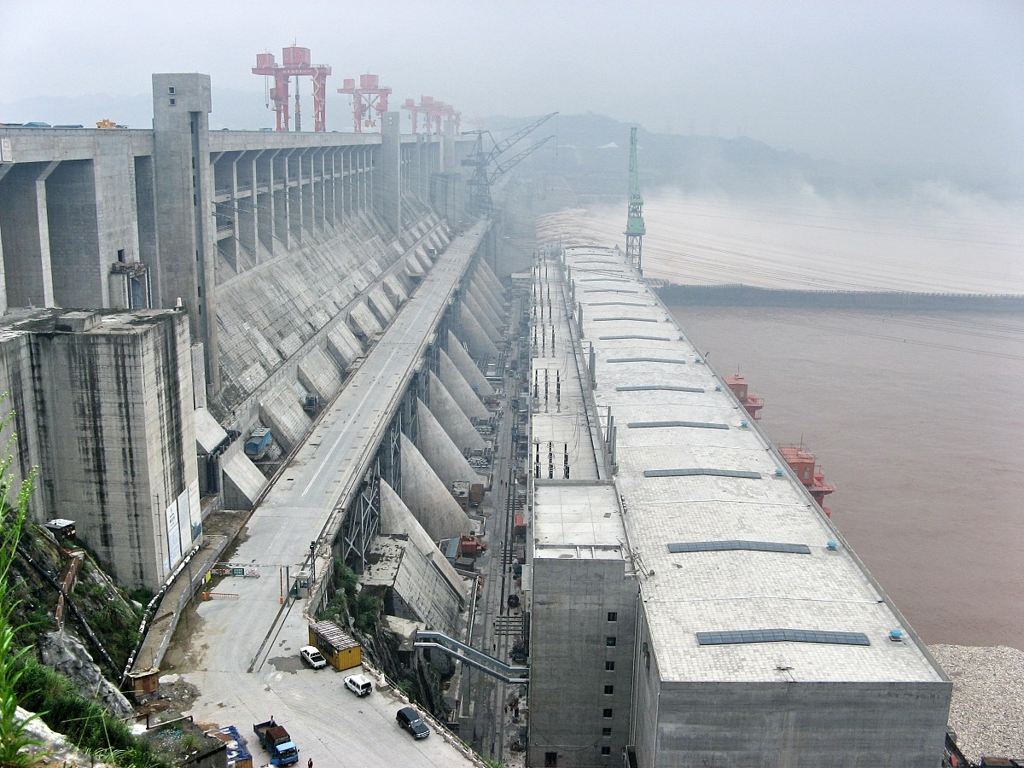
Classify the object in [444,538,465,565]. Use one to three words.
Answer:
shed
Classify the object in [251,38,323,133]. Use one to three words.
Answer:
container crane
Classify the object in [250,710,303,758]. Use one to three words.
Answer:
truck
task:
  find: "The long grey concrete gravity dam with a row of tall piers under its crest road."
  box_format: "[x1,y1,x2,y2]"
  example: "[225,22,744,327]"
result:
[0,126,485,454]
